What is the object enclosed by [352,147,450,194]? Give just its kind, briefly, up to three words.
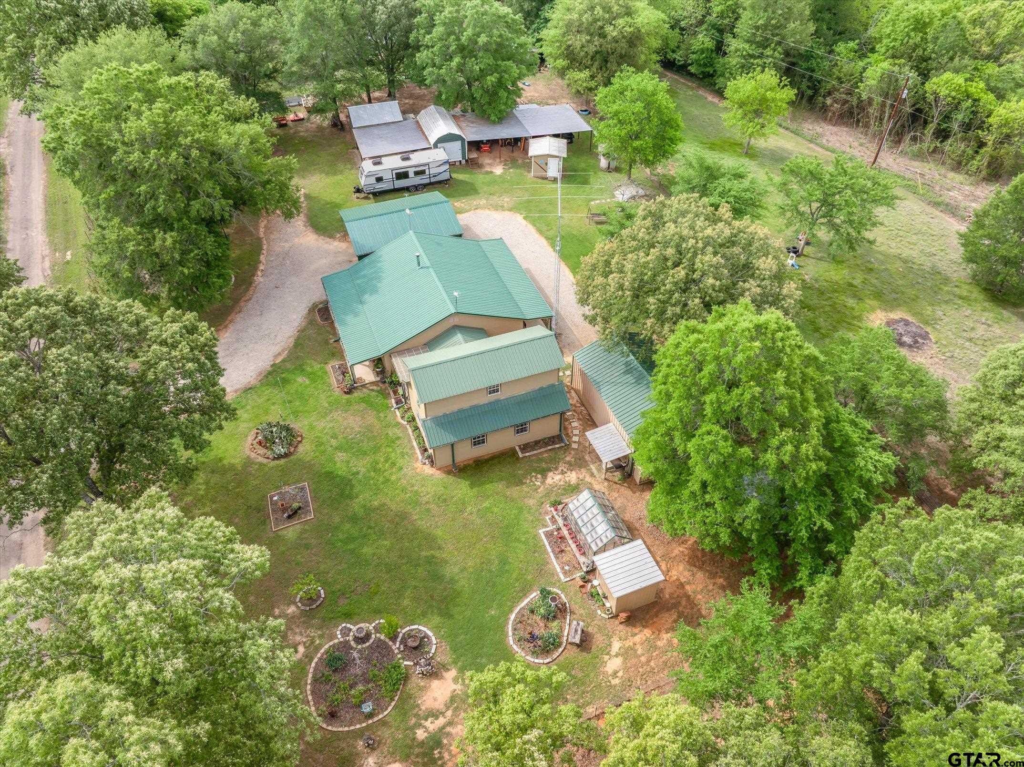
trailer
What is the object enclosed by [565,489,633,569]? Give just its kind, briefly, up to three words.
greenhouse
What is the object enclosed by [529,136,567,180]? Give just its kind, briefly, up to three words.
shed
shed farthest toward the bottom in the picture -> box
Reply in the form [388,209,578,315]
[593,537,666,614]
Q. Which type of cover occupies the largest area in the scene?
trees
